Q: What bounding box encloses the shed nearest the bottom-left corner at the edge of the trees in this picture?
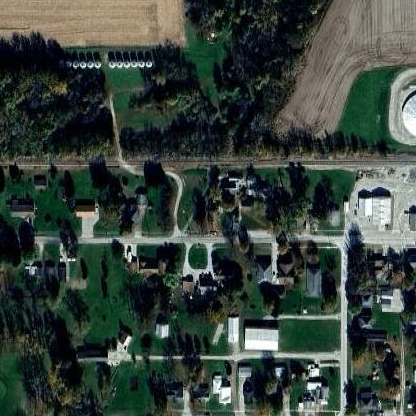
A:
[77,343,107,358]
